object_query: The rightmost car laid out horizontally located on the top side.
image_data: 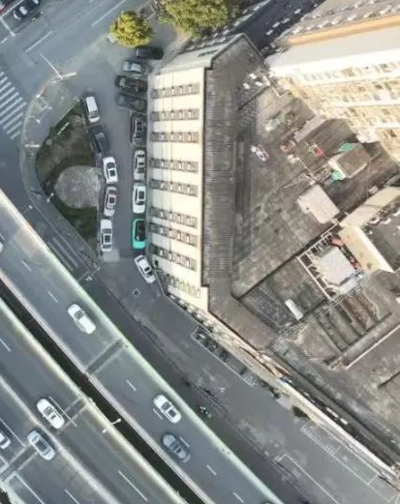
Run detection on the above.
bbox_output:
[133,45,164,59]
